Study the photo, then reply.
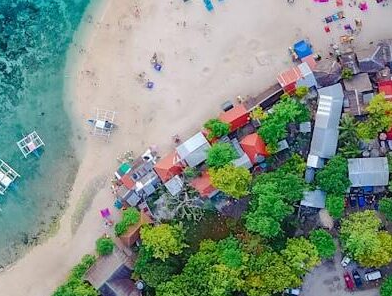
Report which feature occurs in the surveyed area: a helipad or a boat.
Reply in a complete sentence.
It is a boat that can be seen here.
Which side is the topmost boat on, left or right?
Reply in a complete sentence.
You can find the topmost boat on the left side of the picture.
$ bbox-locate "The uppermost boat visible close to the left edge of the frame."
[16,130,47,160]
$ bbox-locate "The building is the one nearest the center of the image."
[176,131,211,167]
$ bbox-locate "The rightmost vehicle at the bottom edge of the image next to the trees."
[365,270,385,283]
